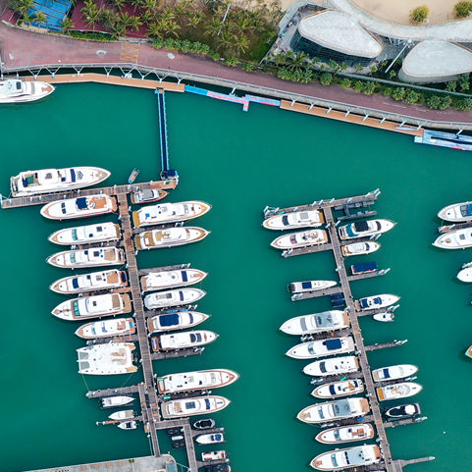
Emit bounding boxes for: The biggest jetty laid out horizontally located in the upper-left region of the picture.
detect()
[29,67,184,93]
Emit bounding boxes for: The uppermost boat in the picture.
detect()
[0,74,56,102]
